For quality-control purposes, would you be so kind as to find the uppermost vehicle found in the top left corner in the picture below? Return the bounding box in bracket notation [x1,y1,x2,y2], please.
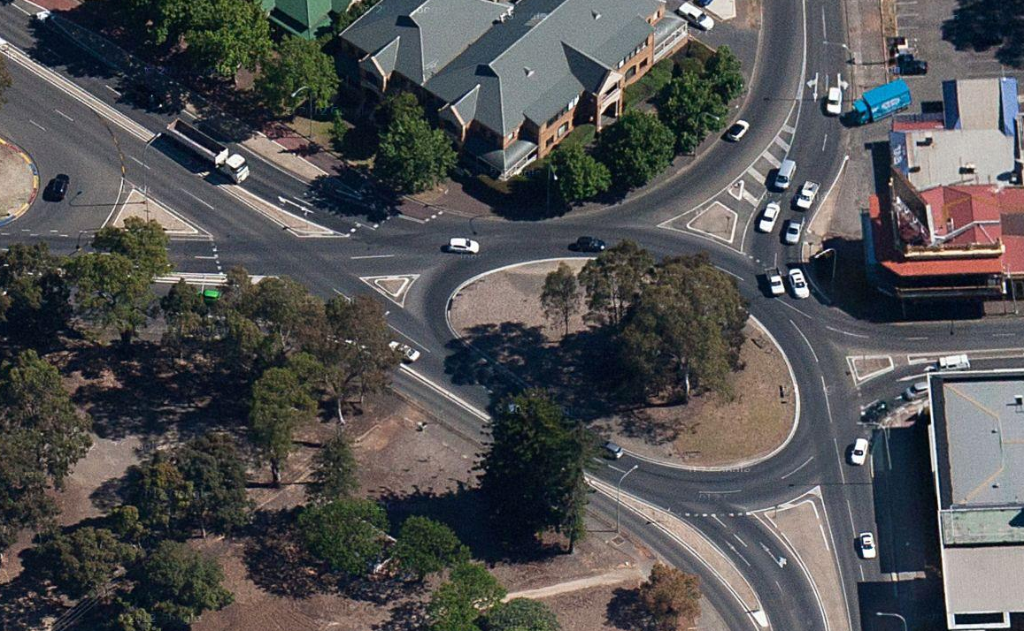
[27,0,57,26]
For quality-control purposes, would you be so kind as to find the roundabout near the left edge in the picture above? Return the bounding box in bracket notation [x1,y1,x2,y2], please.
[0,139,38,222]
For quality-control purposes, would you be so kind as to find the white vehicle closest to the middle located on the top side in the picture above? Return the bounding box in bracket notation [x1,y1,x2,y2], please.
[446,237,480,255]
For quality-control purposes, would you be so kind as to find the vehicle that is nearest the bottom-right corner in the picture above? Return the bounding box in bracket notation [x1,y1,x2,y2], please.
[858,531,877,562]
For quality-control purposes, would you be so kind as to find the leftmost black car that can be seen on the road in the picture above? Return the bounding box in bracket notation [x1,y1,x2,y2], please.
[50,173,69,202]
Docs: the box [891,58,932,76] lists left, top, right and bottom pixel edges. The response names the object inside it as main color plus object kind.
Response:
black vehicle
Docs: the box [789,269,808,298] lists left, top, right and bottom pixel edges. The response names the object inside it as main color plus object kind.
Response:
white car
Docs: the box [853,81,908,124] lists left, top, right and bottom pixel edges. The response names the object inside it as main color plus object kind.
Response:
blue truck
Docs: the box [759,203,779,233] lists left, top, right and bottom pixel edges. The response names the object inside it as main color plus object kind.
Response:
white car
